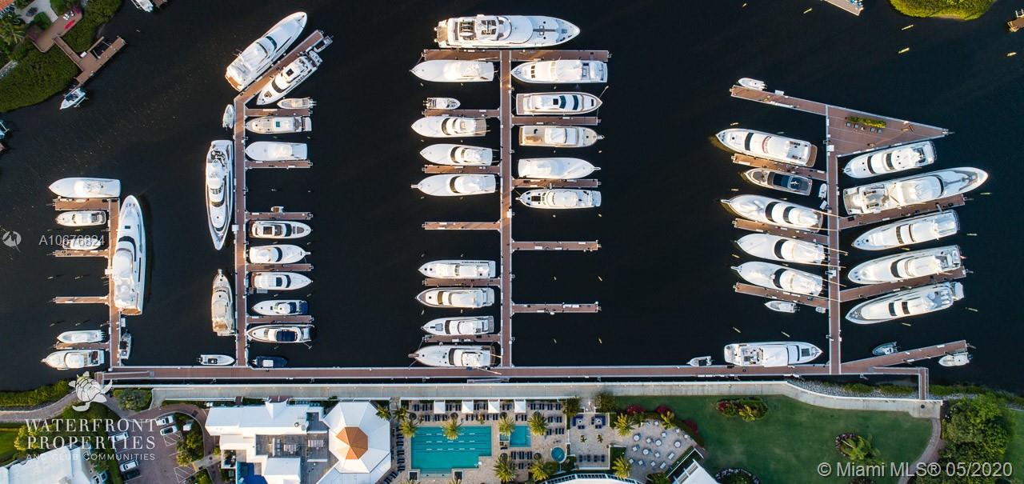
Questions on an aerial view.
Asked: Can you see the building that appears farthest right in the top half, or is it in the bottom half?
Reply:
bottom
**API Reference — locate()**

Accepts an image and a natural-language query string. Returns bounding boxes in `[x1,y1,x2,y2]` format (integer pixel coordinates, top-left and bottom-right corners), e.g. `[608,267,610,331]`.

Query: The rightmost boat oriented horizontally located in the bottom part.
[936,354,971,367]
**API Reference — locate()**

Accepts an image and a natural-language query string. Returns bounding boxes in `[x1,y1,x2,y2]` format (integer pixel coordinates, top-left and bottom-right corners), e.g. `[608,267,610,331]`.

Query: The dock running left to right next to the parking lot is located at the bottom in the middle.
[110,340,969,378]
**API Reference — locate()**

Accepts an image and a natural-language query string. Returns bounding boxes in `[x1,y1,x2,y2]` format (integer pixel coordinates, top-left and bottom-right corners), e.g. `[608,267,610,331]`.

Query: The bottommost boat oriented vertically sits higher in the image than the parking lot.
[123,330,135,359]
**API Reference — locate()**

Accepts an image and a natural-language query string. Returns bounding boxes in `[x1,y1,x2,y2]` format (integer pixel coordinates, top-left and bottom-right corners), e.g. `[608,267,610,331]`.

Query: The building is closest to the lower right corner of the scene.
[667,447,720,484]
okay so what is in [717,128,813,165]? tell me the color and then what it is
white boat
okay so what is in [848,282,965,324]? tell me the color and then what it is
white boat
